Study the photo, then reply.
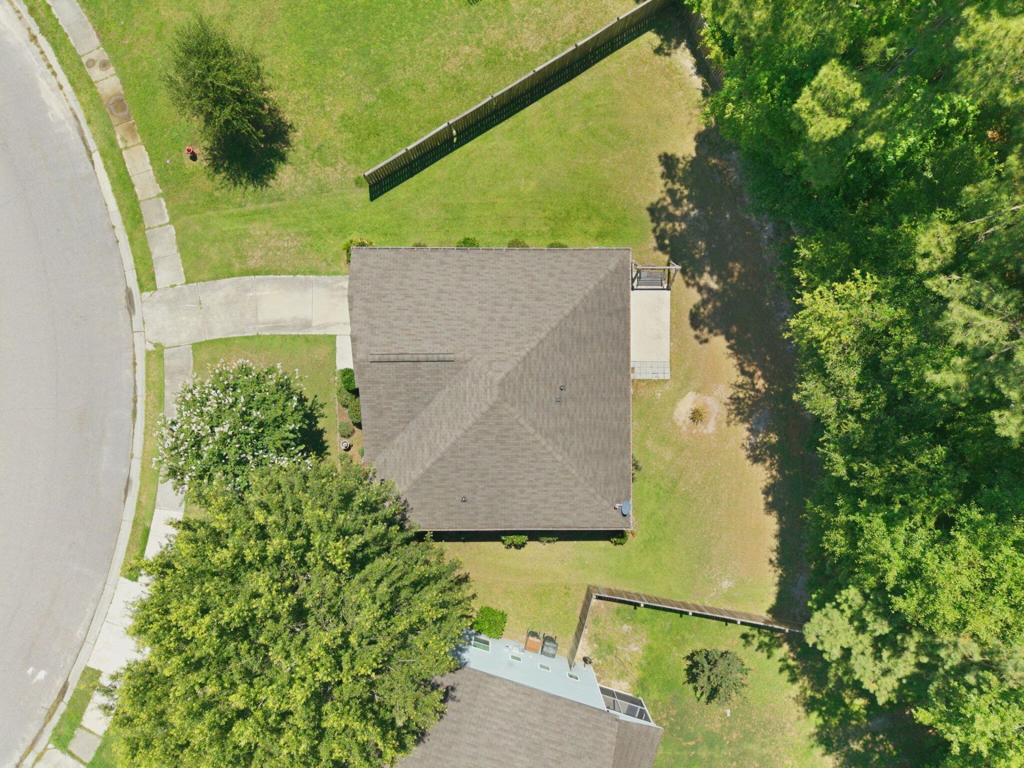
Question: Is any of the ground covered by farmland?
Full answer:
No, there's no farmland in this view.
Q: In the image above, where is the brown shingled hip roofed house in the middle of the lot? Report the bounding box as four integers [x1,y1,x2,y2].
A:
[348,246,634,532]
